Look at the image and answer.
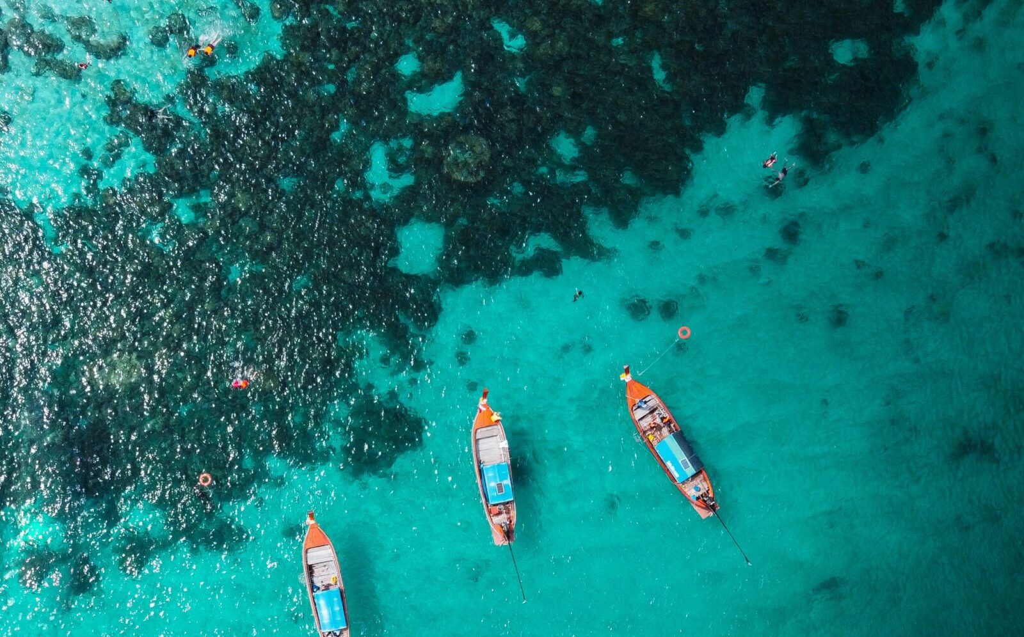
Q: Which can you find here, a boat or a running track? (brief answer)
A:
boat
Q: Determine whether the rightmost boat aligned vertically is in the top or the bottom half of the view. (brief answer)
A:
bottom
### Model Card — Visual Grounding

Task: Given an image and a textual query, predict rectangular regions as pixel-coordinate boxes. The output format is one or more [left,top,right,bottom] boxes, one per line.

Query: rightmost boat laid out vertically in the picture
[471,391,527,604]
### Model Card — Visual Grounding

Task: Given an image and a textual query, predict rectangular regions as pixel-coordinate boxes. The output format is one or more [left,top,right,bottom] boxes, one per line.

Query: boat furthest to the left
[301,512,355,637]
